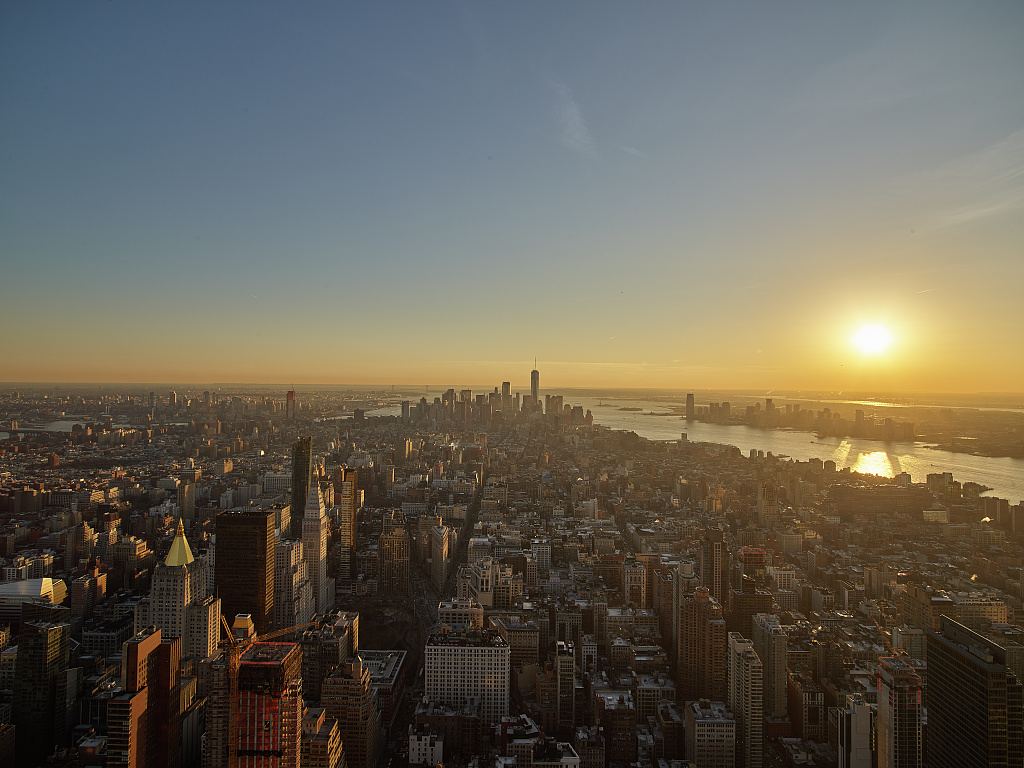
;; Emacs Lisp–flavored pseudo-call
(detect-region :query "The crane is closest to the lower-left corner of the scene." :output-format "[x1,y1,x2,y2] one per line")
[215,616,316,768]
